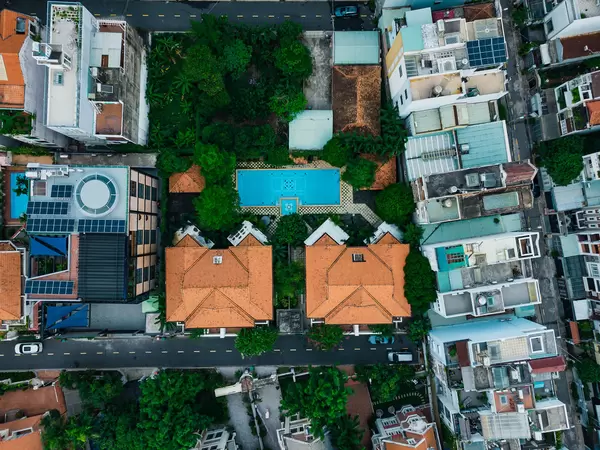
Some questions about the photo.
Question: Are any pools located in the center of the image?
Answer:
Yes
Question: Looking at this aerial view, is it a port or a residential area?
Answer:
residential area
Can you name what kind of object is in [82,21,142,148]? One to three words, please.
house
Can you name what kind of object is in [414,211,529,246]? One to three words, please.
house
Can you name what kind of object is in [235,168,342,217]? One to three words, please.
swimming pool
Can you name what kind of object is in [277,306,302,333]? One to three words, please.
building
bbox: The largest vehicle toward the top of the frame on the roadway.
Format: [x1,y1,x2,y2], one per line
[333,4,359,18]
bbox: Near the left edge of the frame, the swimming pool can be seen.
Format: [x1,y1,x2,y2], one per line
[8,172,27,224]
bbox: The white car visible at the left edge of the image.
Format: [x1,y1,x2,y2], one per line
[16,341,44,355]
